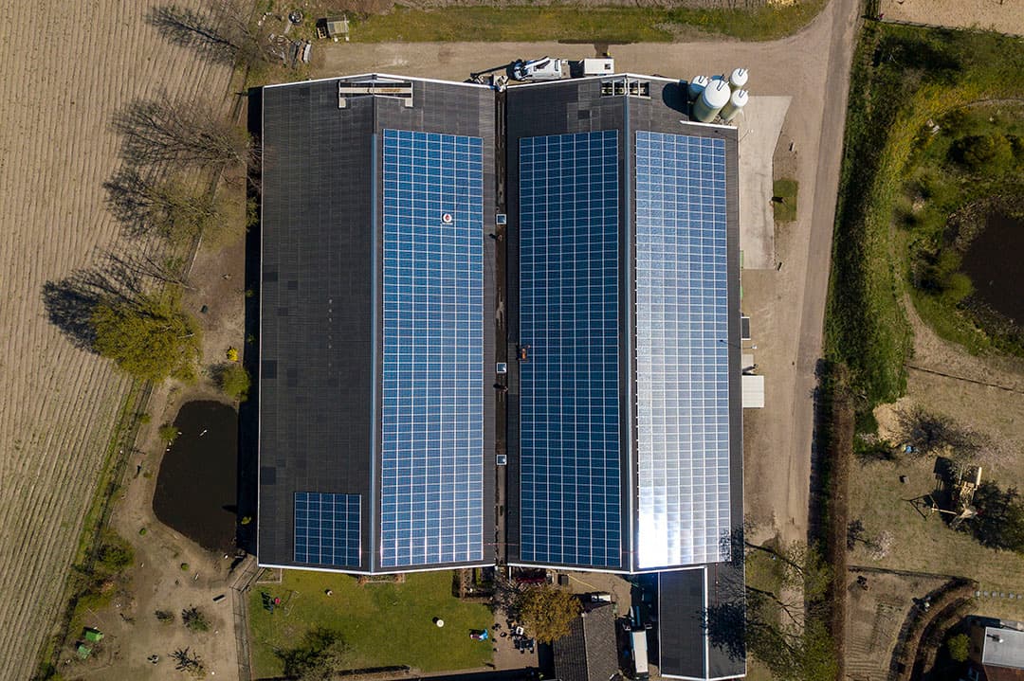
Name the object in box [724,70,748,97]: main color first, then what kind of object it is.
white silo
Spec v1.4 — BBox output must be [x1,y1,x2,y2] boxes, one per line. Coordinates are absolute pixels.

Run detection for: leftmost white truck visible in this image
[471,57,567,82]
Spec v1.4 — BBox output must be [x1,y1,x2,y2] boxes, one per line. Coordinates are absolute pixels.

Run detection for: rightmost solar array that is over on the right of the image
[635,131,732,568]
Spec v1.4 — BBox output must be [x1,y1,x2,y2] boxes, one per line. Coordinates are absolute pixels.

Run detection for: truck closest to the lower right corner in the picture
[623,618,653,677]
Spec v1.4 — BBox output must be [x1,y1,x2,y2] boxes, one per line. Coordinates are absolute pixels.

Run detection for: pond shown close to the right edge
[963,210,1024,333]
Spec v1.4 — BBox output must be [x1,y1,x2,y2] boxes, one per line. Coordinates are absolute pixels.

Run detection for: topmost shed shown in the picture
[324,14,347,43]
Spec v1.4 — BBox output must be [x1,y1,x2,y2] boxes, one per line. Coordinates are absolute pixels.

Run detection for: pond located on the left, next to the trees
[153,398,240,553]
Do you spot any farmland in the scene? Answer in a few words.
Yes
